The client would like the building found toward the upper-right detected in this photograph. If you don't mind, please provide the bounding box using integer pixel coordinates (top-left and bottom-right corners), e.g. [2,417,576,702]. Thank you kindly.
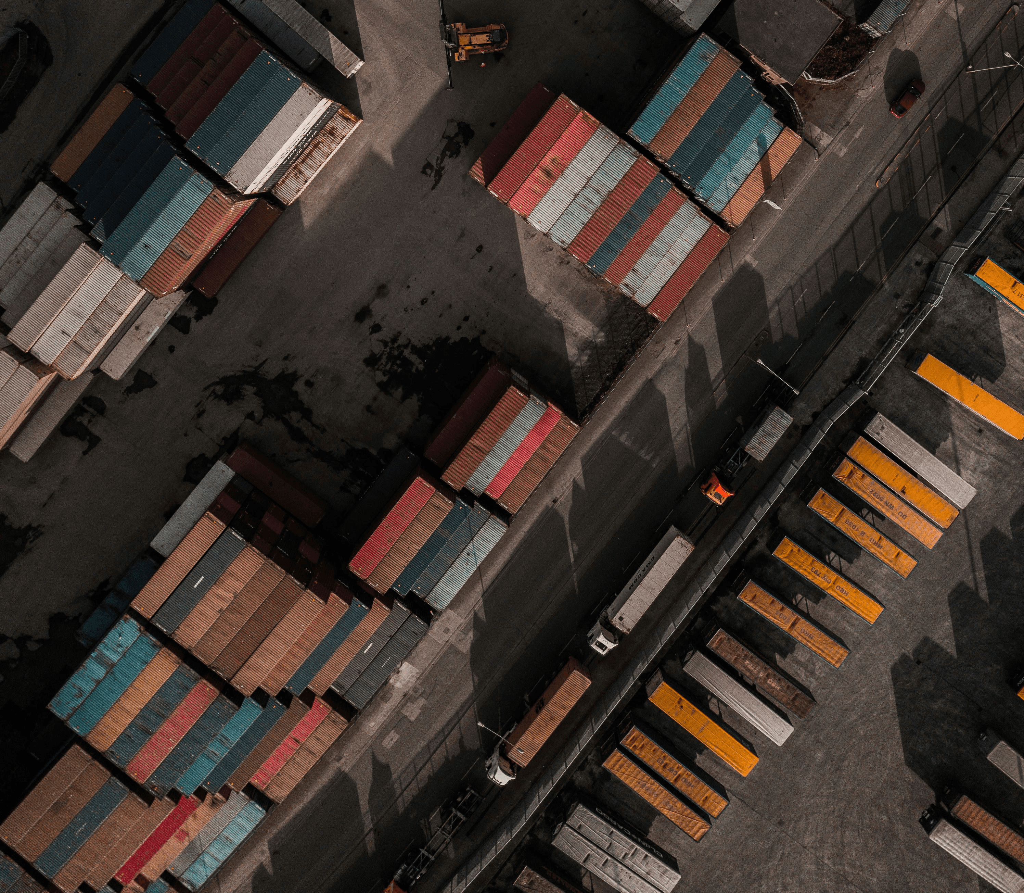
[719,0,843,86]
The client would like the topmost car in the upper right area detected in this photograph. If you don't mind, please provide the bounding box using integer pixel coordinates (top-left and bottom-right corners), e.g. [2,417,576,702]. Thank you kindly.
[890,78,927,121]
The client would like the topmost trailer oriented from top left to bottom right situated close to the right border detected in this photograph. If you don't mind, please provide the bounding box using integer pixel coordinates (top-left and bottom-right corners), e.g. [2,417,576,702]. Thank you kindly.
[961,255,1024,319]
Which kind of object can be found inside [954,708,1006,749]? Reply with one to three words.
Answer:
truck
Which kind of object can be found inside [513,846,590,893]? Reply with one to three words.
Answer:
trailer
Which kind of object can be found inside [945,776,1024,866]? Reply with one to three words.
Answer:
trailer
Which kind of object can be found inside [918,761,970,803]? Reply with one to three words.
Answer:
truck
